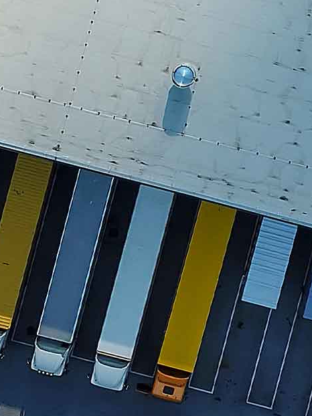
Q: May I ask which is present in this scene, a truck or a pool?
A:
truck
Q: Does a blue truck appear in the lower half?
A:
Yes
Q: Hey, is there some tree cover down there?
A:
No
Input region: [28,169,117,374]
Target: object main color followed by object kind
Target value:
blue truck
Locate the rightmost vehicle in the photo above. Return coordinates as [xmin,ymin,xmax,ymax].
[139,201,235,401]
